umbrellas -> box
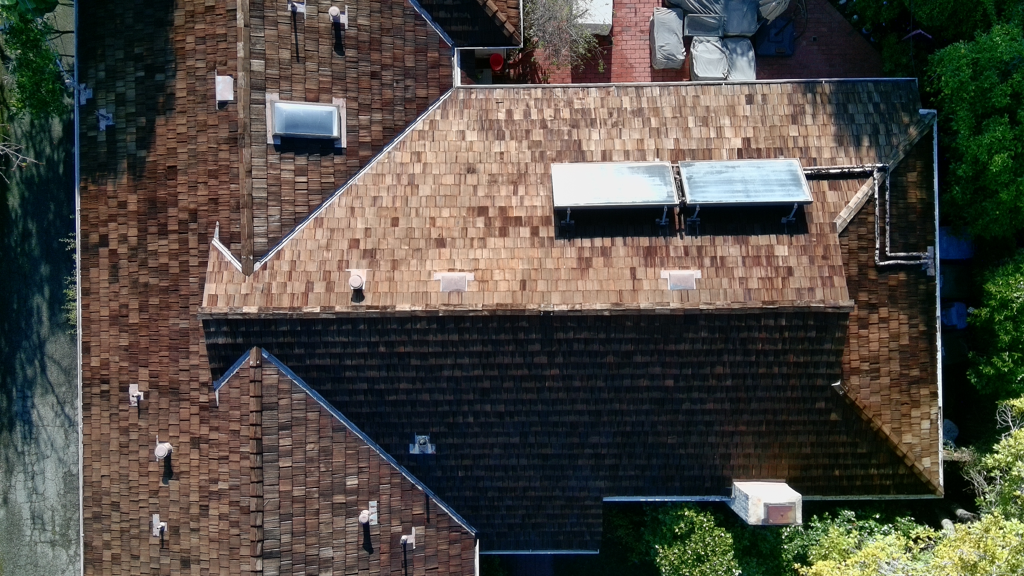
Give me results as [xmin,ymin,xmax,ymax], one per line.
[754,0,815,56]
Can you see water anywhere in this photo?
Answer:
No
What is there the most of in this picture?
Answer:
buildings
